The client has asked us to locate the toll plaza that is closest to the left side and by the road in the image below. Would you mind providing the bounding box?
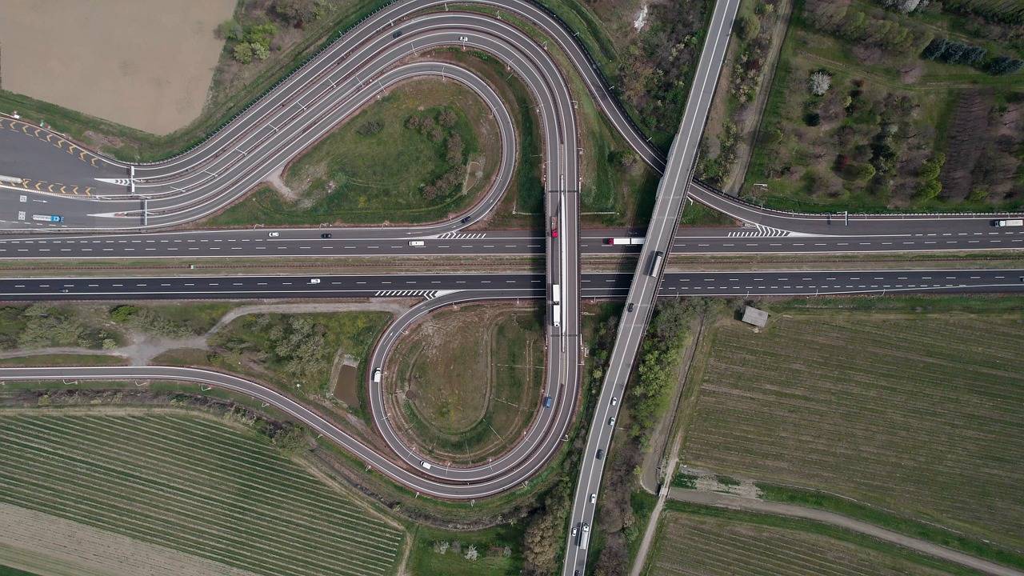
[0,113,140,230]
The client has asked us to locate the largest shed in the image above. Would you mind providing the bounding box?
[742,307,767,328]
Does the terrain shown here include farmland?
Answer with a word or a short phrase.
Yes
